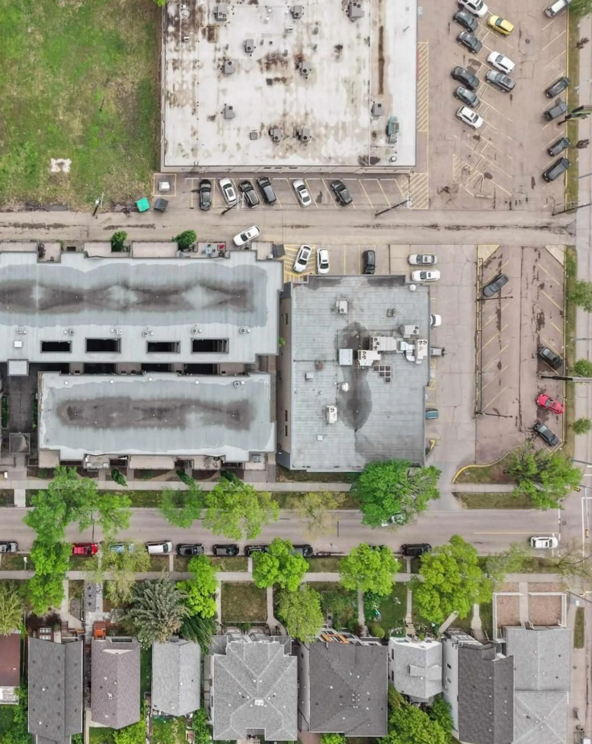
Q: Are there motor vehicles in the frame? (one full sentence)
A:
Yes, I can see a motor vehicle in this picture.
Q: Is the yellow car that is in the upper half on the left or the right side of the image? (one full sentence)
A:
The yellow car that is in the upper half appears in the right half of the scene.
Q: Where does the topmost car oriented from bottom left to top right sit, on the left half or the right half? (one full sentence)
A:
It is on the right.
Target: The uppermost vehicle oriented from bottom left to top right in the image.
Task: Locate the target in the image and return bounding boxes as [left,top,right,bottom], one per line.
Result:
[542,0,570,20]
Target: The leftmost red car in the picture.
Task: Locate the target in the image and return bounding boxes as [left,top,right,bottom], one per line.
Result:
[72,542,97,556]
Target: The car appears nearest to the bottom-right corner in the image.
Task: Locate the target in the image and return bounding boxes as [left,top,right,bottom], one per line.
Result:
[527,535,558,549]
